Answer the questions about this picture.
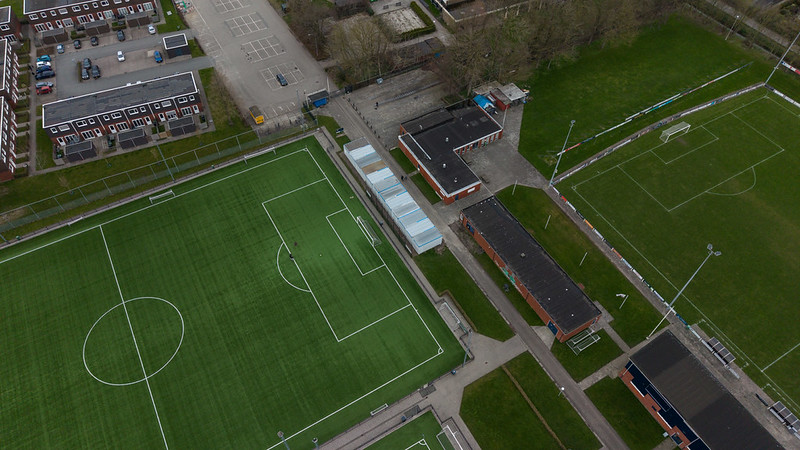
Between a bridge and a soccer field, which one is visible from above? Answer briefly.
soccer field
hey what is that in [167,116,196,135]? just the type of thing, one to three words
shed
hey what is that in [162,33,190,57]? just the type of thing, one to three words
building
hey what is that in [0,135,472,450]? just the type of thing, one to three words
soccer field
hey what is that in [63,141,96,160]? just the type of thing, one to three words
shed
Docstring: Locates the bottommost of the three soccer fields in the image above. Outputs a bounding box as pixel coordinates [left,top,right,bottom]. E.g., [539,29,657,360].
[364,409,455,450]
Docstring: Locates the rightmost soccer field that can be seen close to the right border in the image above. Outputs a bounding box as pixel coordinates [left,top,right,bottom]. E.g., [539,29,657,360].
[552,84,800,412]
